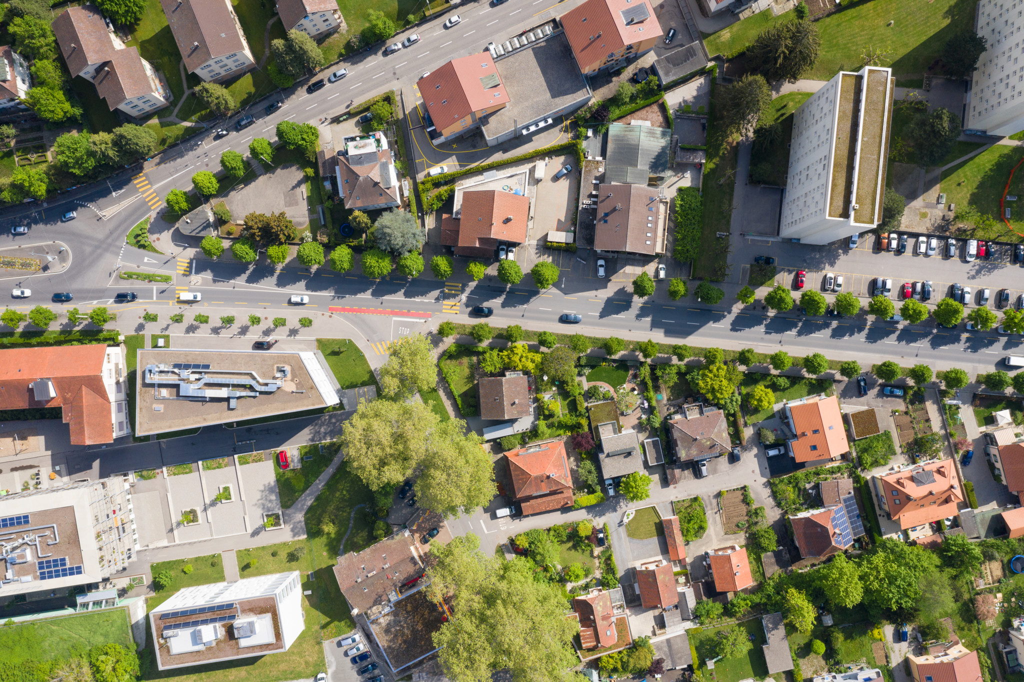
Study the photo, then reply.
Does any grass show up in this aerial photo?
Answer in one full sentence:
Yes, there is grass in the image.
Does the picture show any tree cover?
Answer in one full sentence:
Yes, tree cover shows up in the scene.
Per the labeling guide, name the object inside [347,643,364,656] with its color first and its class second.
white vehicle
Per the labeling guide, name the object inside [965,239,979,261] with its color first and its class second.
white vehicle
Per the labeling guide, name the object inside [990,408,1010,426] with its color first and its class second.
white gazebo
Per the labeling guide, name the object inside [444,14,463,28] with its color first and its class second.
white car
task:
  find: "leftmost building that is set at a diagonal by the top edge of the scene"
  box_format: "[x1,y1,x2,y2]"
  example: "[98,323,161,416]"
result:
[51,4,166,118]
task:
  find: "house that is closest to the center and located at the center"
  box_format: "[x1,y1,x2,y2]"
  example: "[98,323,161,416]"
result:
[479,373,530,420]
